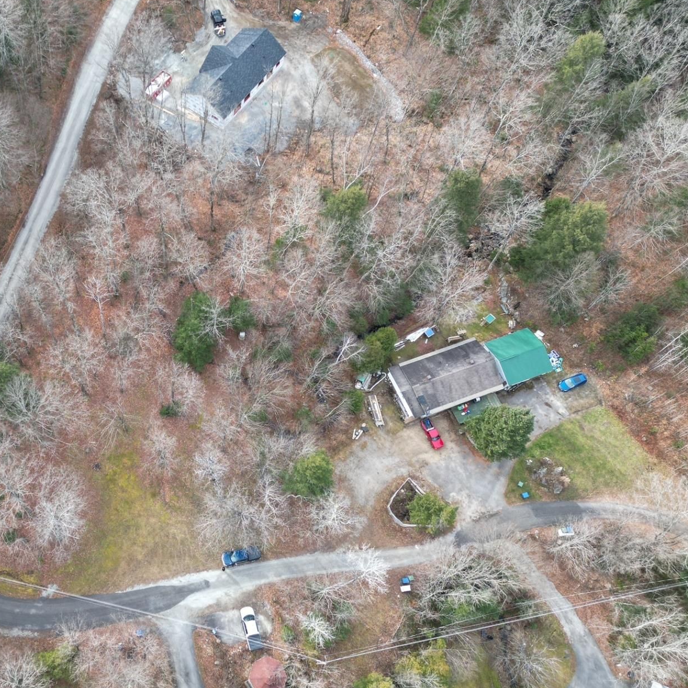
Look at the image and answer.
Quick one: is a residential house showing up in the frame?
Yes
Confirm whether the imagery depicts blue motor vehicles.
Yes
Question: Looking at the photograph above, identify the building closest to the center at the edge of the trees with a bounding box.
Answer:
[386,338,507,422]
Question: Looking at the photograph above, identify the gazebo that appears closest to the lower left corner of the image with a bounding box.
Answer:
[249,657,288,688]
